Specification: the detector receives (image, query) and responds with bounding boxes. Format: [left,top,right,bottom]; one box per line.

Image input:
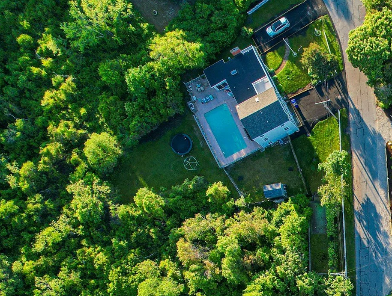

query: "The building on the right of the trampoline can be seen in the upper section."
[204,45,299,145]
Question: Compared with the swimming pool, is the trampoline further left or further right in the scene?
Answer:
left of it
